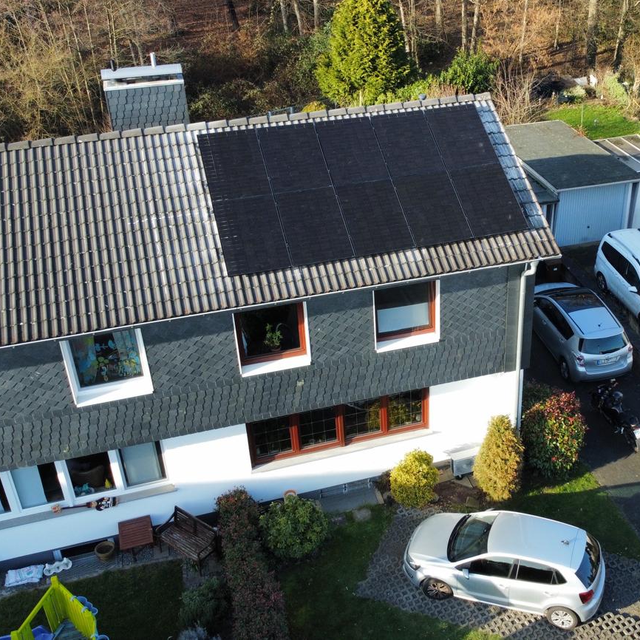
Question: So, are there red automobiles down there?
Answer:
No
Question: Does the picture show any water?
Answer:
No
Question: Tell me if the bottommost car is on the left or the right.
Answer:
right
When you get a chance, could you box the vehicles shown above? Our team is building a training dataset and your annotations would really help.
[594,229,640,333]
[589,375,640,448]
[533,282,633,380]
[403,503,610,630]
